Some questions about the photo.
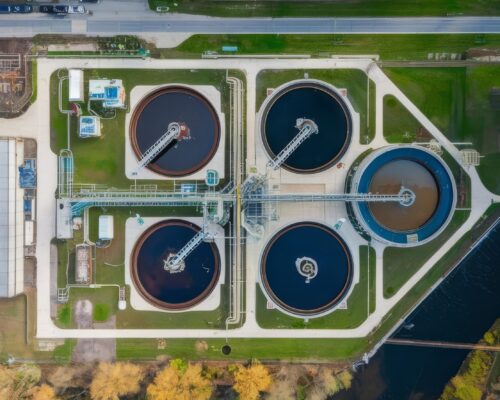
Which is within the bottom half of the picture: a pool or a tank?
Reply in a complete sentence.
The one visible within the bottom half of the picture is a tank.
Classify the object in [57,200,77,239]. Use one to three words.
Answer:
house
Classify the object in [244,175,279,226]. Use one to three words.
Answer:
building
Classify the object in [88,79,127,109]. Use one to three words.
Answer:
building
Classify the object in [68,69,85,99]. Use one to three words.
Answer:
shed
